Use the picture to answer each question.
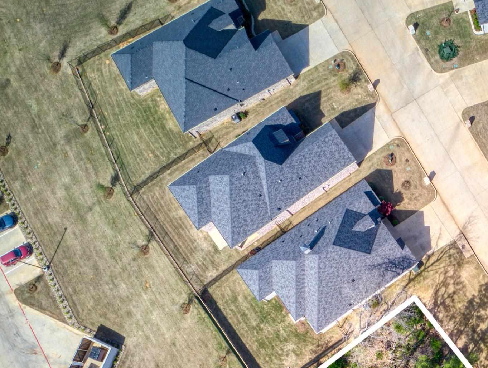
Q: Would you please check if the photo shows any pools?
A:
No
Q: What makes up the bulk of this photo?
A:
grass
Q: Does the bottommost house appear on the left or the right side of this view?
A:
right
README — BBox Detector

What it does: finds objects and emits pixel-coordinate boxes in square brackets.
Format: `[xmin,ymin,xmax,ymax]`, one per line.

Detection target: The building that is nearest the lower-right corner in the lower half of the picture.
[236,179,419,334]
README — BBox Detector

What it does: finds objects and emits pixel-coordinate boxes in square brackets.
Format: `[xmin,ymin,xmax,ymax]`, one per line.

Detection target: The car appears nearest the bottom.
[0,241,33,266]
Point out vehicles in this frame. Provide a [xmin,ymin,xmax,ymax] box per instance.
[0,209,18,229]
[0,241,33,266]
